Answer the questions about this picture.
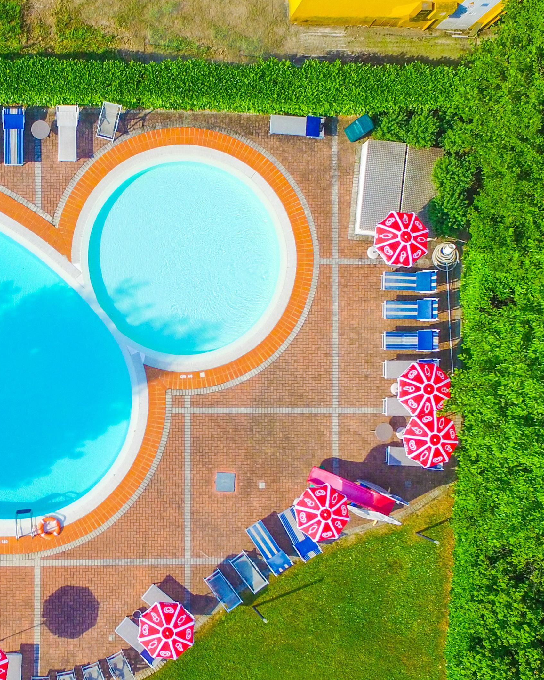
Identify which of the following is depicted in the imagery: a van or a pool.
pool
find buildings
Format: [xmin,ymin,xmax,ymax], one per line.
[291,0,520,39]
[355,140,445,239]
